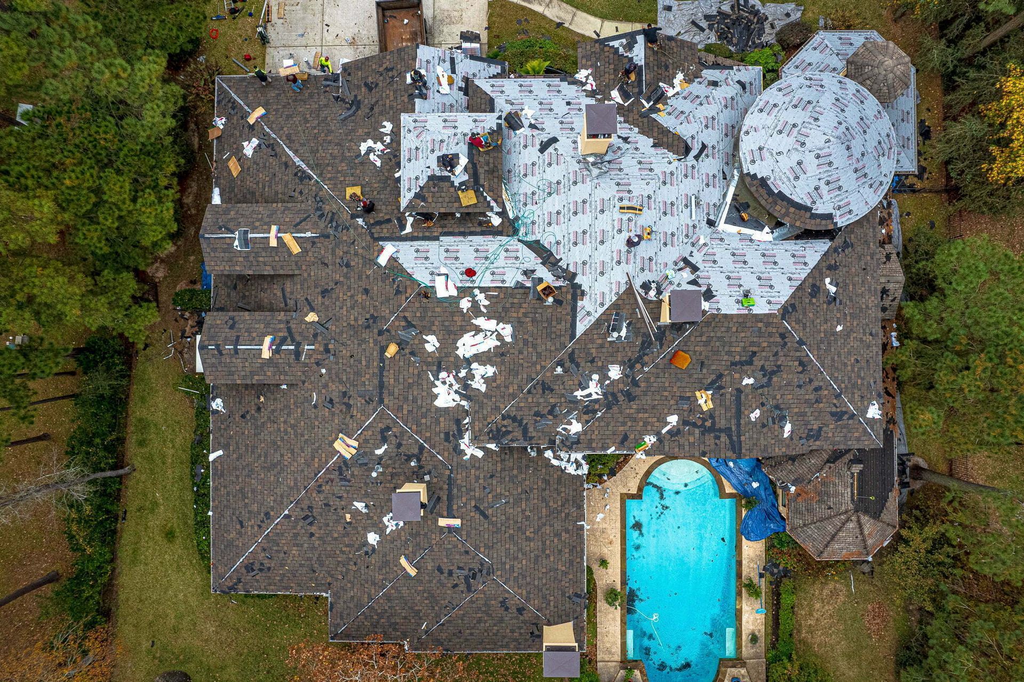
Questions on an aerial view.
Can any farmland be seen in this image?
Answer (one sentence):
No, there is no farmland in the image.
